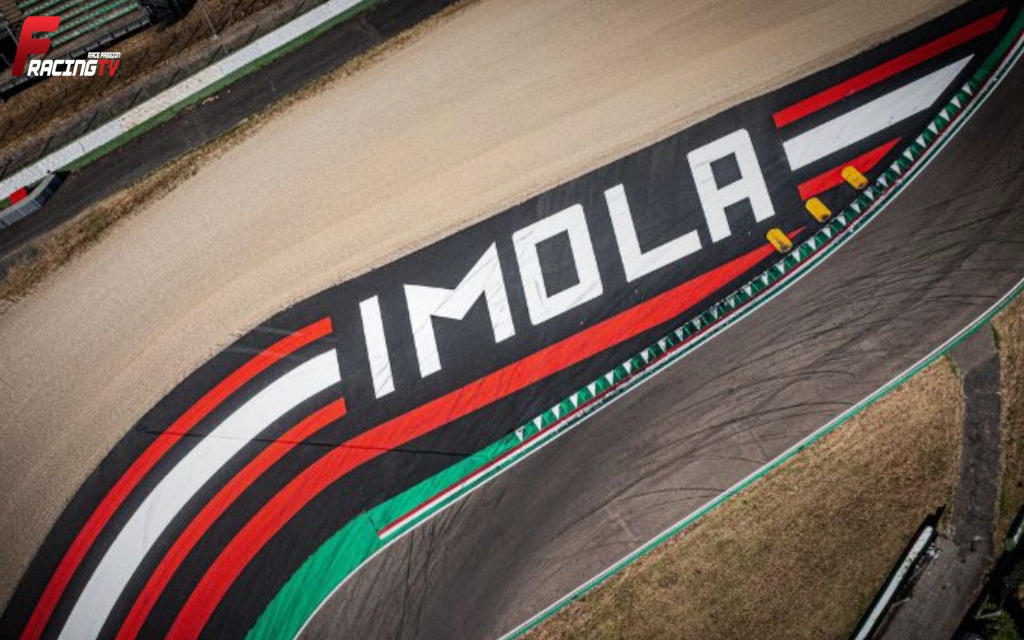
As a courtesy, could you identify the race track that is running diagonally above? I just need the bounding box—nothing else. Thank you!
[293,25,1024,640]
